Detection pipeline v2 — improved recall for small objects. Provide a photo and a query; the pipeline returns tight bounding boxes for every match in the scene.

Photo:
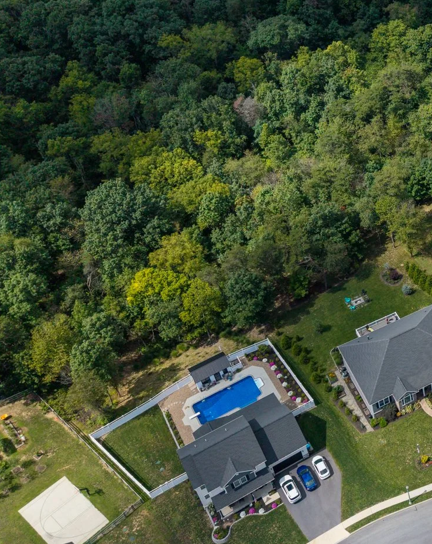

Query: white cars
[280,475,302,503]
[311,455,331,481]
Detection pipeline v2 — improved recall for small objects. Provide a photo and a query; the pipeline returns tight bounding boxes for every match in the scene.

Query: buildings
[177,392,309,525]
[337,306,432,414]
[185,349,233,390]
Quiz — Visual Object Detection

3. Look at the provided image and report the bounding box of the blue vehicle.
[296,464,317,491]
